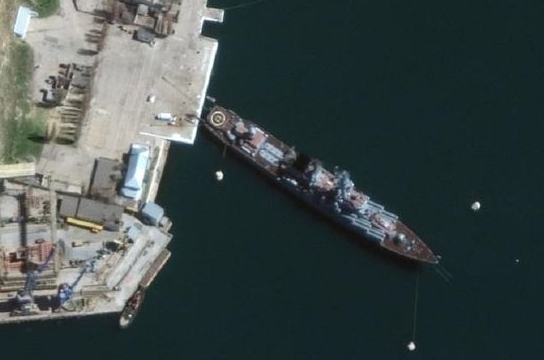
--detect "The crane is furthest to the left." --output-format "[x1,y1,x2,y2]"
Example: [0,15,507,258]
[18,254,55,317]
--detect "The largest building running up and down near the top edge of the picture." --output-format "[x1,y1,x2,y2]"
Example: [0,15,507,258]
[13,5,33,39]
